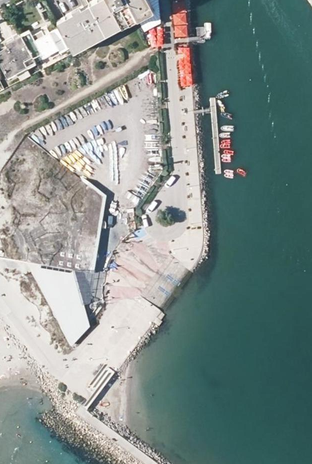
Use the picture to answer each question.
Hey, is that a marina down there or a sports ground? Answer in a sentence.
This looks like a marina.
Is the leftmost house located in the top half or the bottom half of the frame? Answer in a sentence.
The leftmost house sits in the top half of the picture.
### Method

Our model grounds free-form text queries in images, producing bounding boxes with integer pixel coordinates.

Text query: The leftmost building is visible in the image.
[0,36,33,76]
